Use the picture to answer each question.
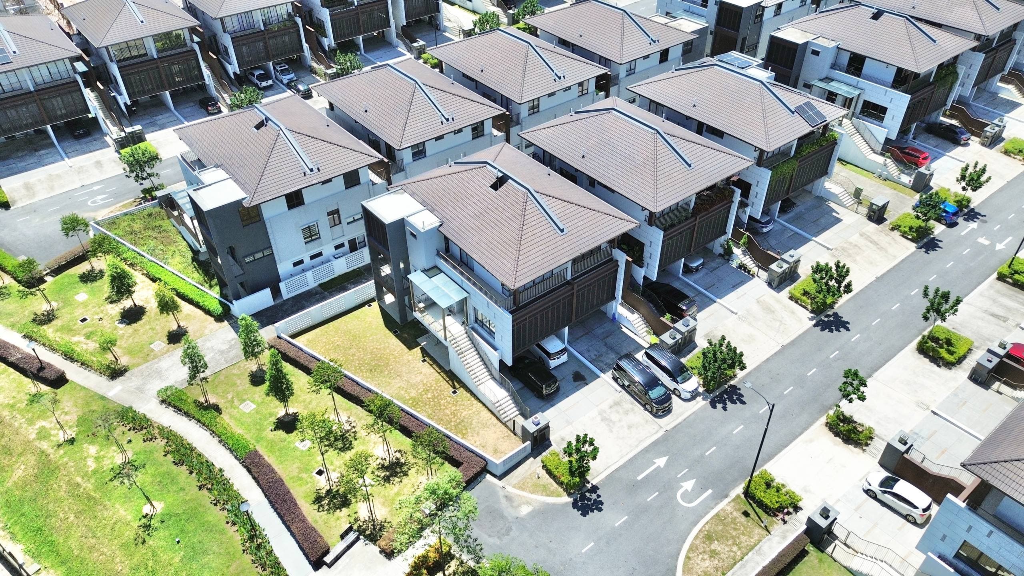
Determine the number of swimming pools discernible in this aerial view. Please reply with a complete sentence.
Not a single swimming pool can be seen.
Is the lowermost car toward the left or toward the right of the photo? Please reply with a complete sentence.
The lowermost car appears in the right half of the scene.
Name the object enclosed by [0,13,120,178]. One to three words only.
house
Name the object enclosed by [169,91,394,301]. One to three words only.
house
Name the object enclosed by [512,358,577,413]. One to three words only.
car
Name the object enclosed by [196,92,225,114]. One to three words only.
car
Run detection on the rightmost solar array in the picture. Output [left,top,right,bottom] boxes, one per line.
[785,86,826,117]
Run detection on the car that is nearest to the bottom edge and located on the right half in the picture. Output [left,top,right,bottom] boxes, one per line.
[859,468,941,528]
